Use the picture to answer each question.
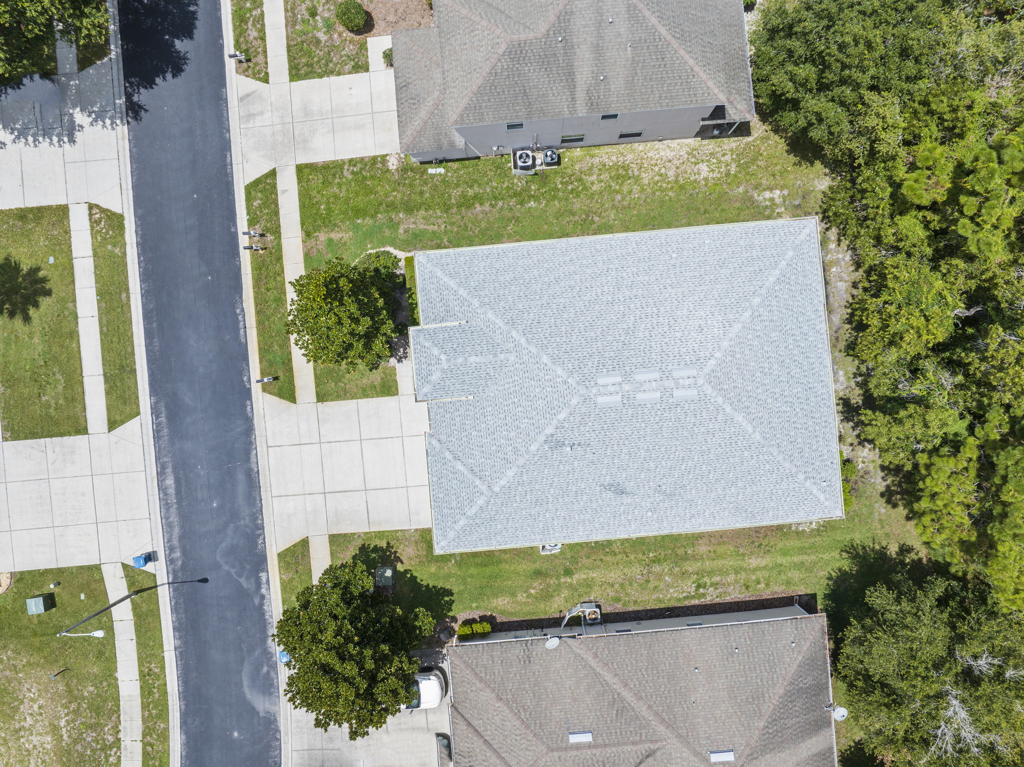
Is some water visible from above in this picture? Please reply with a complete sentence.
No, there's no water in this view.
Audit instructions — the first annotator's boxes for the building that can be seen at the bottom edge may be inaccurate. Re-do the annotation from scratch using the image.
[437,600,837,767]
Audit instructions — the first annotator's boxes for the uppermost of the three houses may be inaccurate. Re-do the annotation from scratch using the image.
[391,0,754,161]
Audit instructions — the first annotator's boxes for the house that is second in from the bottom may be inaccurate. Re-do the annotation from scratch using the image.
[409,217,844,553]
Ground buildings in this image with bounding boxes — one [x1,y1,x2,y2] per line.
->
[391,0,754,161]
[437,600,837,767]
[409,217,844,553]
